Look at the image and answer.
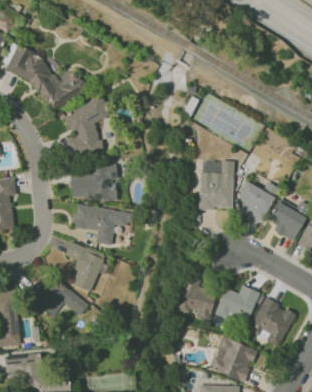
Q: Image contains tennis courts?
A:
Yes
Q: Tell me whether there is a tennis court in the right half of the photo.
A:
Yes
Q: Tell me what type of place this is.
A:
residential area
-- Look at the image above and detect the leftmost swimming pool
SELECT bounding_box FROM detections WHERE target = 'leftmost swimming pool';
[0,146,14,168]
